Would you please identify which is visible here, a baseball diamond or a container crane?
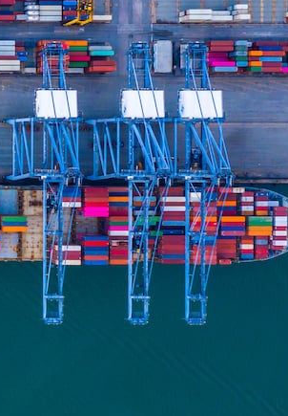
container crane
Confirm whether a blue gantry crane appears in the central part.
Yes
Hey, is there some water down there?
Yes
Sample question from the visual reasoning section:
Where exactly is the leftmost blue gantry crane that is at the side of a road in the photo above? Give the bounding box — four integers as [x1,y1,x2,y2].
[5,39,84,324]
